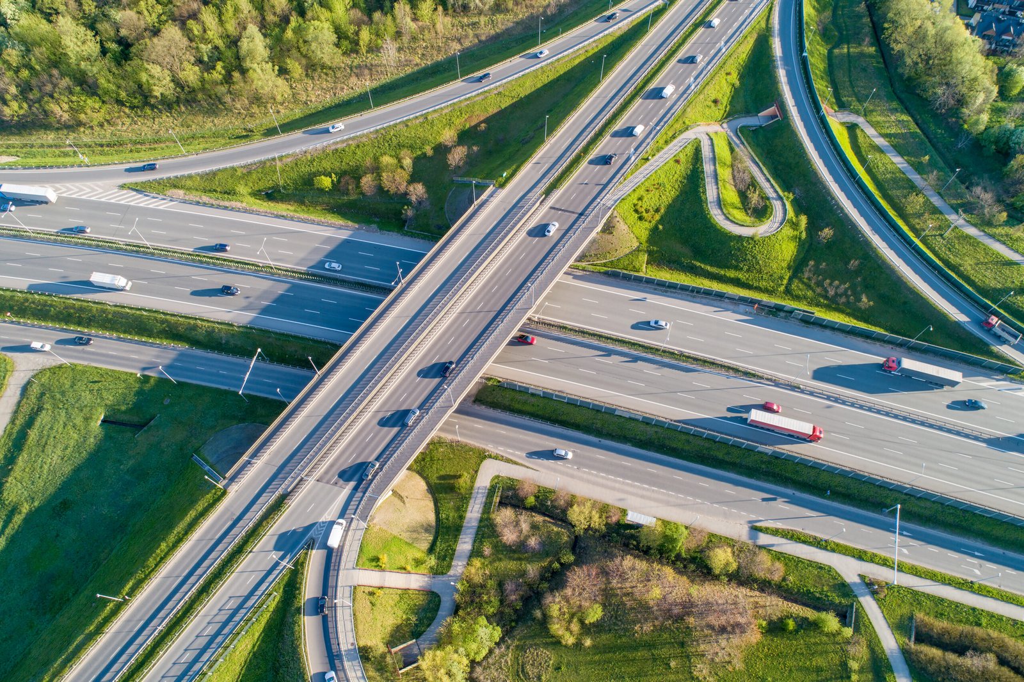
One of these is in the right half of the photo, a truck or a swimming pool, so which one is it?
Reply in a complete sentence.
The one visible in the right half of the photo is a truck.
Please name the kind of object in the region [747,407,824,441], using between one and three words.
truck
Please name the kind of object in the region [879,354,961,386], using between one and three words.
truck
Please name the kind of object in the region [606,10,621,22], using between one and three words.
vehicle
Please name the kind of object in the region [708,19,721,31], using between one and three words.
vehicle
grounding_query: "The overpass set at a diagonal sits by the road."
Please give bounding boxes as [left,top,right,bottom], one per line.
[221,160,620,538]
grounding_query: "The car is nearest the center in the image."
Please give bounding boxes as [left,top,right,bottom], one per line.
[518,334,538,346]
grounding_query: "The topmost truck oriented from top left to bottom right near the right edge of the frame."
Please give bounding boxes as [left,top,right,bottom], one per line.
[988,315,1024,348]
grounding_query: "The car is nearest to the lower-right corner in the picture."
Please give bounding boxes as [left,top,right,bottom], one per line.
[965,399,985,411]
